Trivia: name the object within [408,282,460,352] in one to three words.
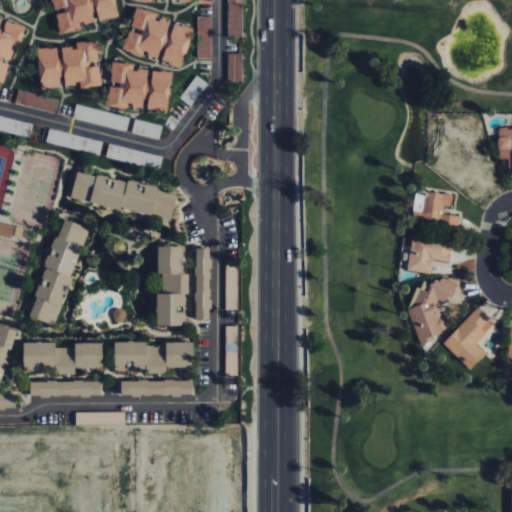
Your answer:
house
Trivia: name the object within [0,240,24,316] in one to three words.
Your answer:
tennis court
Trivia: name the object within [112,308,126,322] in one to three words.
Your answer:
gazebo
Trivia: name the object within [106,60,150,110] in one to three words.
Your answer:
building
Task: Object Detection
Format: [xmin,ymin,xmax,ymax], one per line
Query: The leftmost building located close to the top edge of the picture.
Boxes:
[0,18,28,86]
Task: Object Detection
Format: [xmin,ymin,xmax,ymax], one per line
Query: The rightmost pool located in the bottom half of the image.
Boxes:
[480,330,497,359]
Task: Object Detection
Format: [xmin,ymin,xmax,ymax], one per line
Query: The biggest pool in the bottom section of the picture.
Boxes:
[76,290,123,332]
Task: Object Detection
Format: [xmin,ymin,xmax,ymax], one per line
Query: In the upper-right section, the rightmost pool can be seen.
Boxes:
[482,112,512,136]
